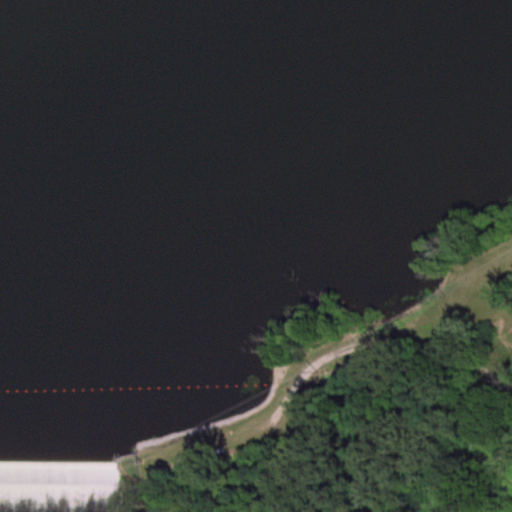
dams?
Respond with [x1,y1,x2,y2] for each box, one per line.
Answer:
[0,460,118,512]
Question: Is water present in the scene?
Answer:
Yes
